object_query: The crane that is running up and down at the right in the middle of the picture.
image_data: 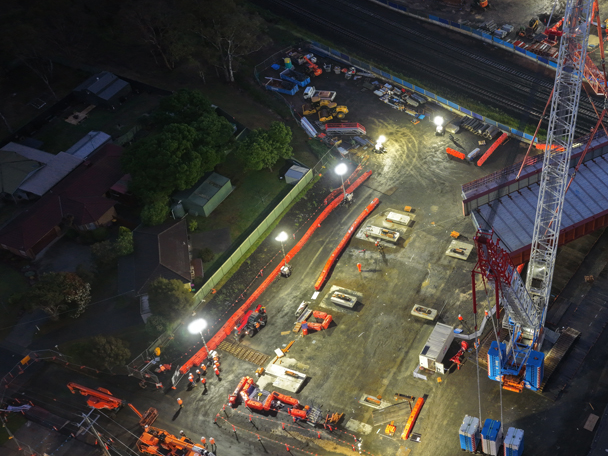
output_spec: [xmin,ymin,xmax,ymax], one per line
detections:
[470,0,597,429]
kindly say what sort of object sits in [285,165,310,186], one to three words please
shed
